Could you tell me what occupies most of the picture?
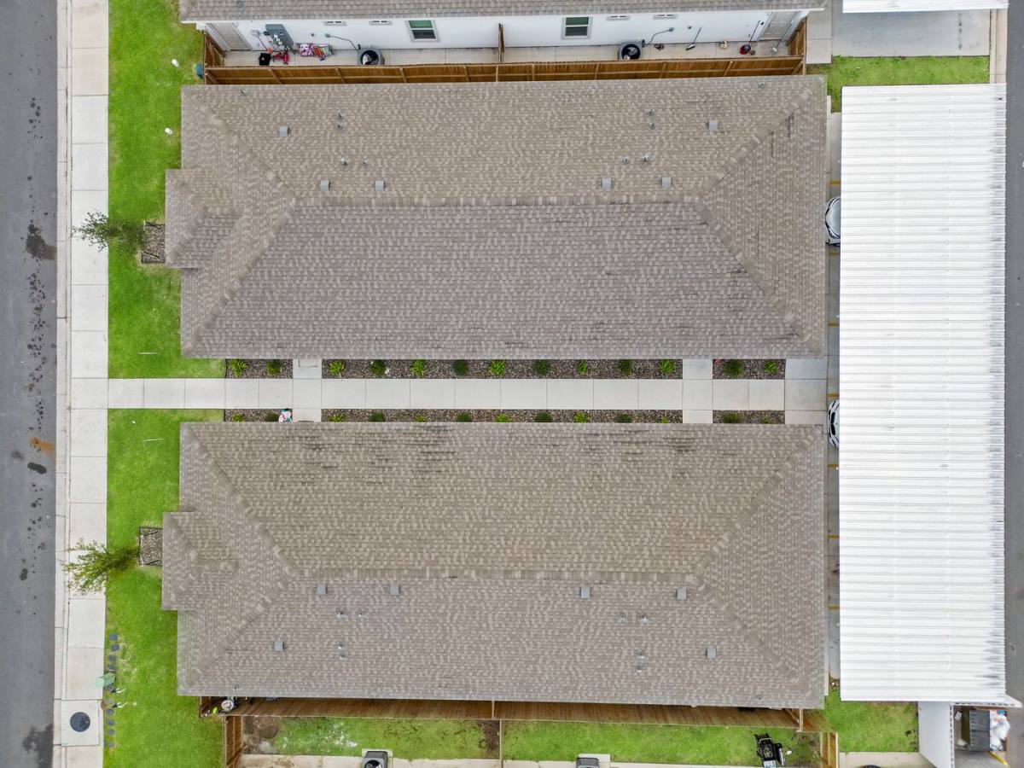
buildings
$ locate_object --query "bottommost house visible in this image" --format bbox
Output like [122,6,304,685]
[162,422,823,708]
